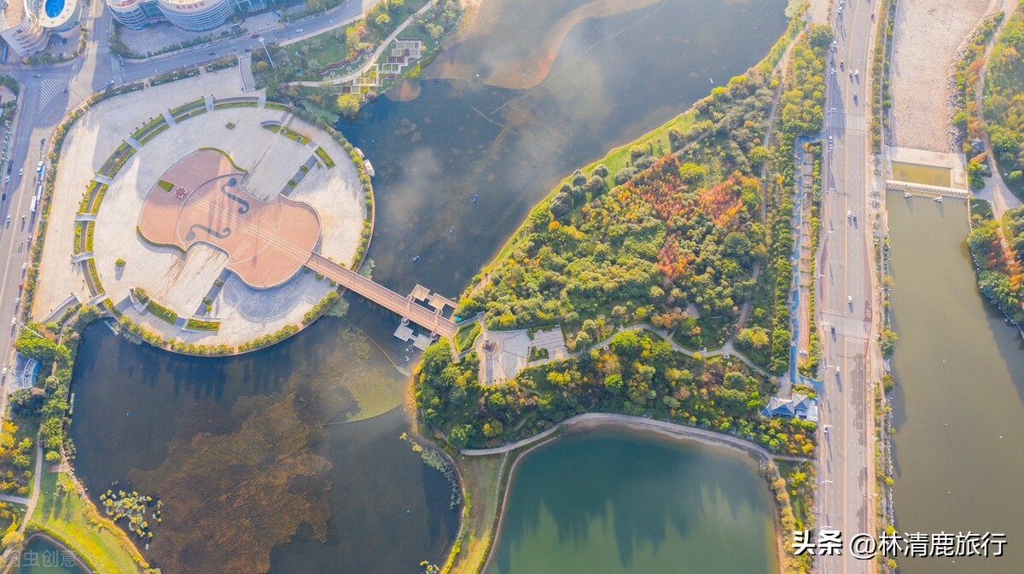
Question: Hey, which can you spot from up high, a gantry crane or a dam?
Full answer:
The image shows a dam.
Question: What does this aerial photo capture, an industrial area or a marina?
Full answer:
It's a marina.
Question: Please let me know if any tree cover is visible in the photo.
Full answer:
Yes, tree cover can be seen from above here.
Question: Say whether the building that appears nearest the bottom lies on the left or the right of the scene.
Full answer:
The building that appears nearest the bottom appears in the right half of the scene.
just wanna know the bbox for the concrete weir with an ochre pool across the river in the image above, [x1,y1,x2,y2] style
[886,147,969,204]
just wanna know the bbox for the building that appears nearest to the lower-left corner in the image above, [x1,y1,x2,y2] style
[20,356,39,387]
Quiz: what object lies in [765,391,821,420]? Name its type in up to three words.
building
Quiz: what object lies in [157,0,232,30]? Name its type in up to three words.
building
